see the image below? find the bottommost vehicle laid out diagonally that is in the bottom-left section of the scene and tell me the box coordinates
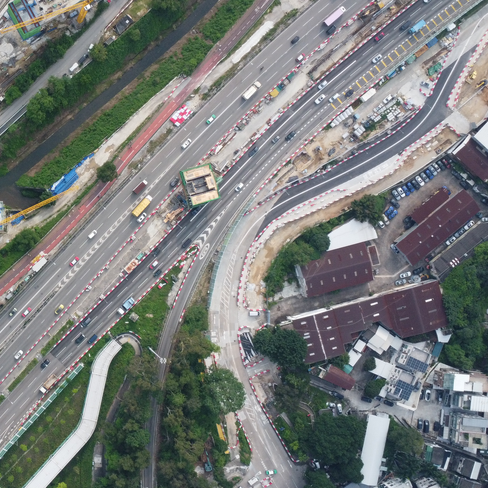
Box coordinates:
[39,374,58,393]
